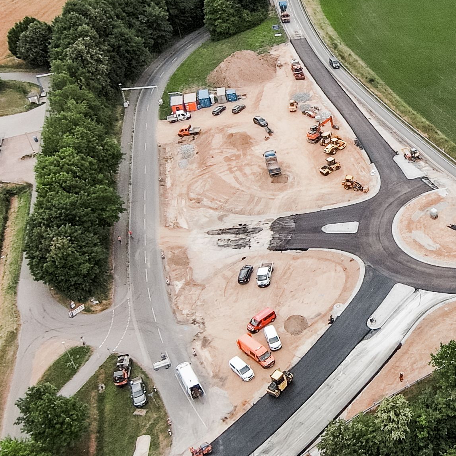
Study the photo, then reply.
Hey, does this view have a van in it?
Yes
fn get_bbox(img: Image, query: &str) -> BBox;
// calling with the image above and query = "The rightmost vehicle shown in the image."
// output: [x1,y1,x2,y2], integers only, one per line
[401,145,420,159]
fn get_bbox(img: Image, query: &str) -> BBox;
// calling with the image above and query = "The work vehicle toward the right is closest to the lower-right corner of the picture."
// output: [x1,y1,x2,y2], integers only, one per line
[263,362,297,397]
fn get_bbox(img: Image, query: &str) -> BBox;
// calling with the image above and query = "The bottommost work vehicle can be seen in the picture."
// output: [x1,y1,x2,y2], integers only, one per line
[184,433,216,456]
